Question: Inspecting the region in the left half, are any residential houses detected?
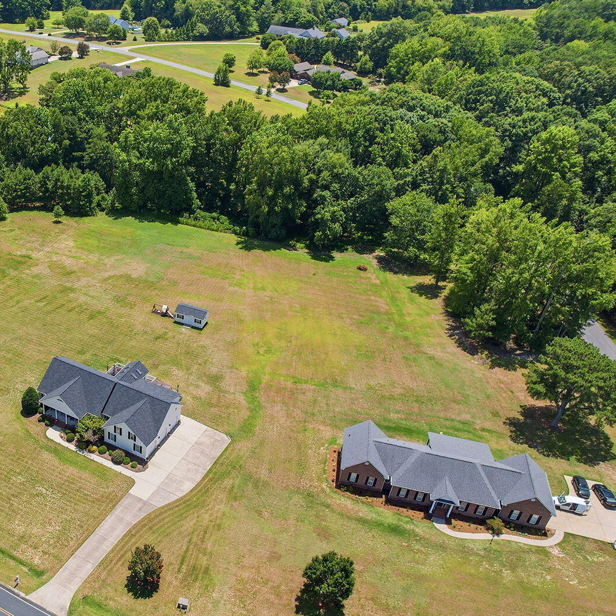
Yes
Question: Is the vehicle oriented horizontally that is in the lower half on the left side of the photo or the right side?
right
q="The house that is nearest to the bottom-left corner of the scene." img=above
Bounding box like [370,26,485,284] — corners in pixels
[36,357,186,462]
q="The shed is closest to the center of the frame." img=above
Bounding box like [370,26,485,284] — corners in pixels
[175,303,210,328]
